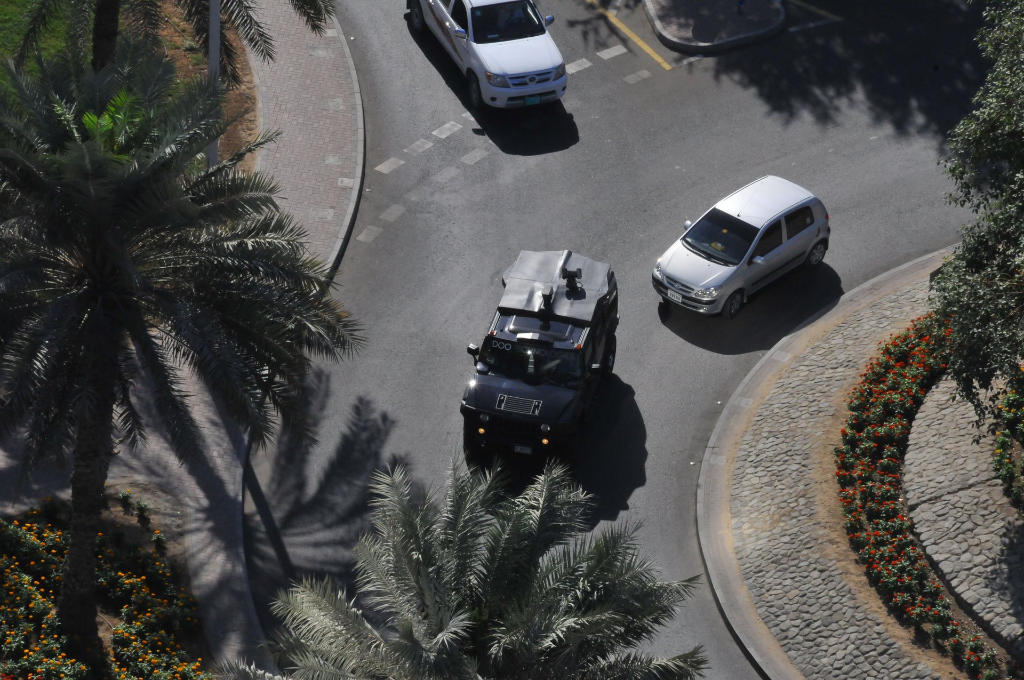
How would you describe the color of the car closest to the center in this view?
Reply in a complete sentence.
In this view, the car closest to the center is black.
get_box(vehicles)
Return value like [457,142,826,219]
[408,0,571,112]
[645,175,832,321]
[462,250,615,458]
